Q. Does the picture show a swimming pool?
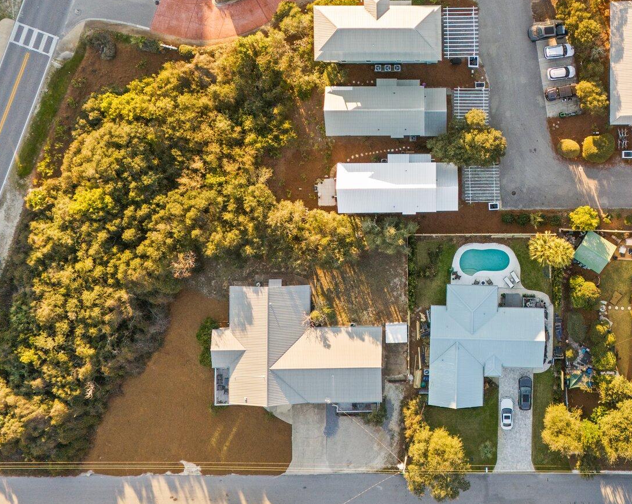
Yes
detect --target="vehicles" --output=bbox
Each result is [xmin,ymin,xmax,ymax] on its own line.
[543,43,575,59]
[517,375,534,410]
[499,396,514,430]
[528,23,568,39]
[543,85,576,100]
[545,65,576,80]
